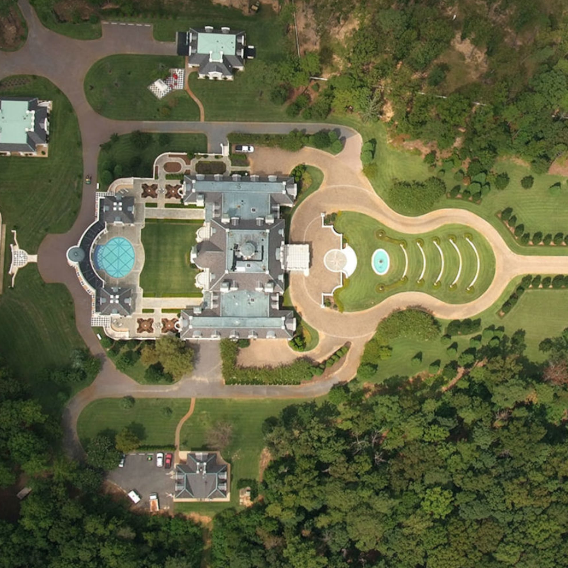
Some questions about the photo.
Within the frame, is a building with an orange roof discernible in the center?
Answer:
No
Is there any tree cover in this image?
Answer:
Yes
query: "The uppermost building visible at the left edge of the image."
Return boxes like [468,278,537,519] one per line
[0,96,53,158]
